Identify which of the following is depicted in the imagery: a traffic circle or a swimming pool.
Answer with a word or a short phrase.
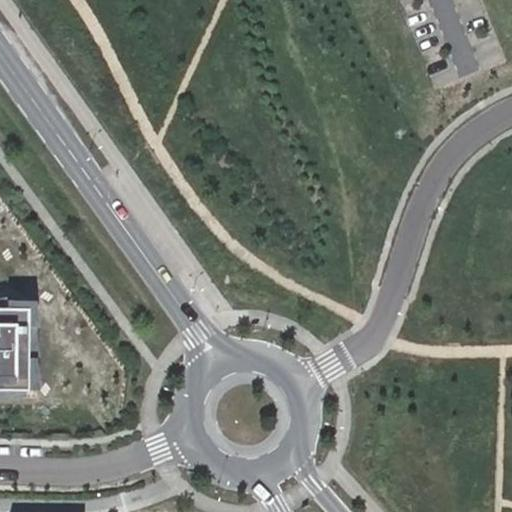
traffic circle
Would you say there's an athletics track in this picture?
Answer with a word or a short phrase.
No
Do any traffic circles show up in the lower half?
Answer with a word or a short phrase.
Yes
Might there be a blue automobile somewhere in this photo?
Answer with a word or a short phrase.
No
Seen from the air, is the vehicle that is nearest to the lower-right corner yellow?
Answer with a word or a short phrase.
No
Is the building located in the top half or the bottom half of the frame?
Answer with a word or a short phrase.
bottom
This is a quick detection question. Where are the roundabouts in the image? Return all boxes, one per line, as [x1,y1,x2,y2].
[168,338,324,494]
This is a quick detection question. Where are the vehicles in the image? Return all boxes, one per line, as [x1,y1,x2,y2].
[426,61,446,74]
[252,482,274,505]
[180,302,198,322]
[156,266,172,284]
[112,201,128,220]
[0,448,10,456]
[406,14,426,26]
[20,447,44,458]
[0,470,18,480]
[418,38,434,51]
[416,24,436,36]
